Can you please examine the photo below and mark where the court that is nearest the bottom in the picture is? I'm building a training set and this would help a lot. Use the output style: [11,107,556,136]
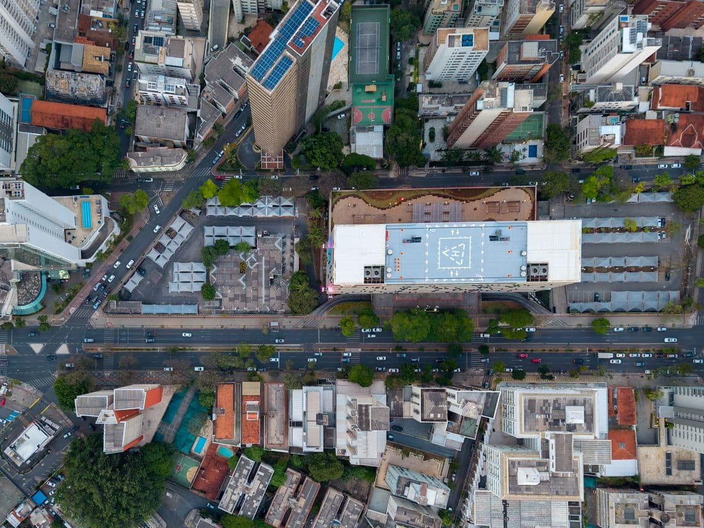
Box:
[170,455,200,487]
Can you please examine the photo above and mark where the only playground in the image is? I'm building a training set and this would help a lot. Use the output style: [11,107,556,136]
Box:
[353,83,395,106]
